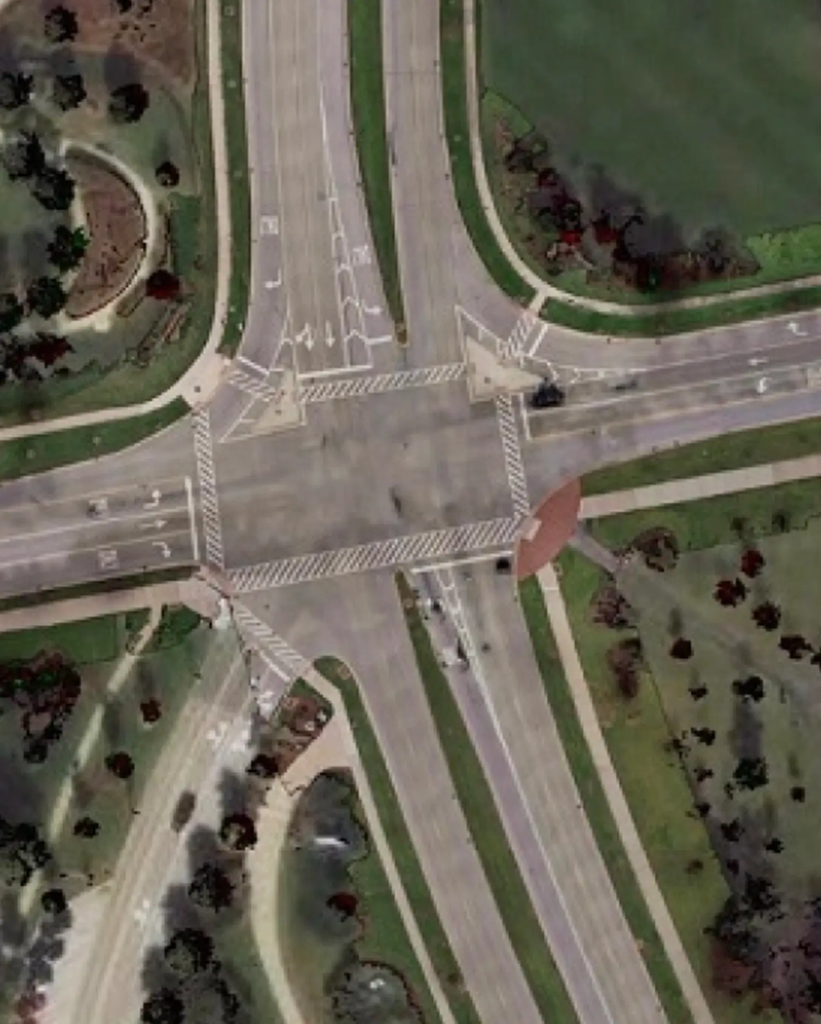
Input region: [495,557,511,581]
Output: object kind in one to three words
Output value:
car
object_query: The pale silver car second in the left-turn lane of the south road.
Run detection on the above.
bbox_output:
[442,638,466,676]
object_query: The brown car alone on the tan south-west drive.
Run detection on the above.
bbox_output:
[168,790,198,833]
